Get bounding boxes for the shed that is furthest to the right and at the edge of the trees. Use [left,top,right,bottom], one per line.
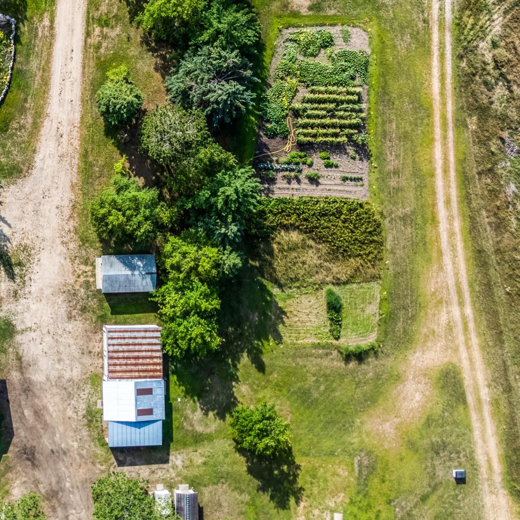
[174,489,198,520]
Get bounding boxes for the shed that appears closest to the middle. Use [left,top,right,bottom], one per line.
[96,255,157,293]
